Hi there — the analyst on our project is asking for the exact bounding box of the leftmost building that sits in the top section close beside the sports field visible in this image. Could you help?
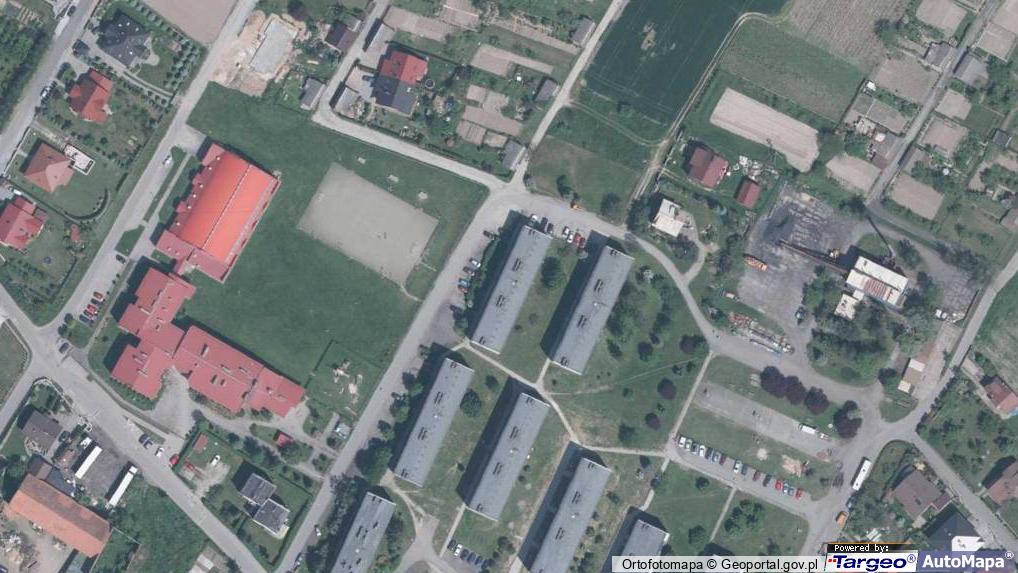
[155,143,281,284]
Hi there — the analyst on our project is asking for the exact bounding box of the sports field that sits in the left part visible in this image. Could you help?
[298,163,439,286]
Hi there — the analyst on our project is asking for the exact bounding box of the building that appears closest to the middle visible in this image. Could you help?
[471,225,553,356]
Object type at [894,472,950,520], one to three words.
house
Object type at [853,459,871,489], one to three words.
vehicle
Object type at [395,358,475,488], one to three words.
building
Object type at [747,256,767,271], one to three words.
vehicle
